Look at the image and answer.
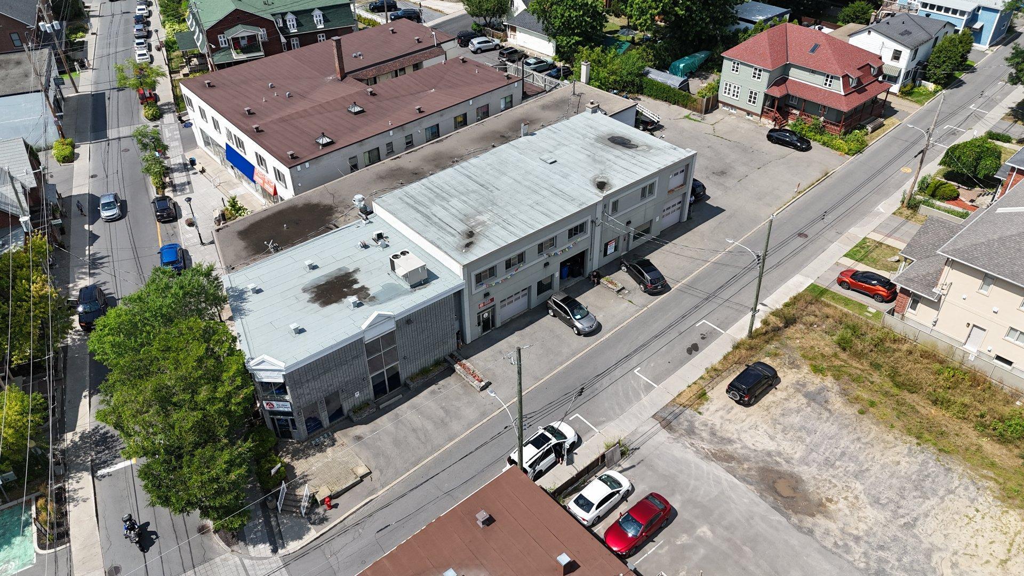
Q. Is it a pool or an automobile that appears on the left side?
automobile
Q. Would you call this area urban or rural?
urban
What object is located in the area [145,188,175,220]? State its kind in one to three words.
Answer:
car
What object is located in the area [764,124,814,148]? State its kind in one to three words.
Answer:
car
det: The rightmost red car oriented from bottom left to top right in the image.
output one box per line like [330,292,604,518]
[605,481,675,556]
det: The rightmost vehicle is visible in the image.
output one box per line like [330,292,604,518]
[836,267,901,303]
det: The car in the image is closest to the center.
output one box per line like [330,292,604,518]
[543,285,601,334]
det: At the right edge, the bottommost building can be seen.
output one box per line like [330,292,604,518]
[890,183,1024,375]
